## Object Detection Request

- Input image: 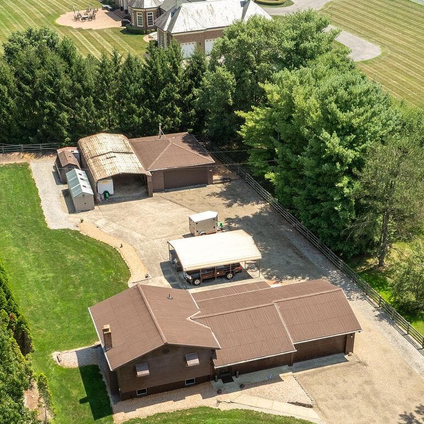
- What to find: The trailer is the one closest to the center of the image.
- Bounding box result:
[188,211,223,235]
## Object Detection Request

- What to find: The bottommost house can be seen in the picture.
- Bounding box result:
[85,279,369,401]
